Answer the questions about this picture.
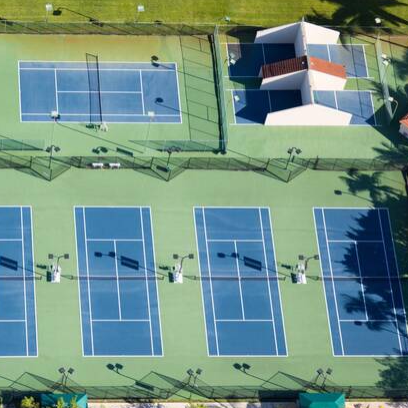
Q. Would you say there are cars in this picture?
No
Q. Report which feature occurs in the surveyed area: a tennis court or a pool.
tennis court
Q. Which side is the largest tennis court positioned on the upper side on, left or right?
left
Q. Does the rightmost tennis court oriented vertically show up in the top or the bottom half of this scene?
bottom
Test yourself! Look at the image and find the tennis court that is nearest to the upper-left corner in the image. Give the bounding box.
[17,61,184,123]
